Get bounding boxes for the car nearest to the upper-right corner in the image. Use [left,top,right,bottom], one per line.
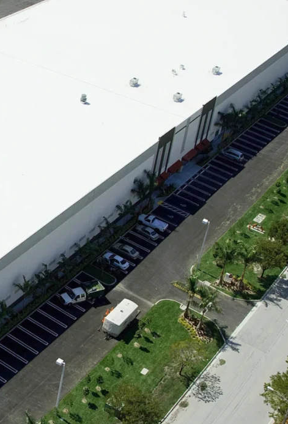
[221,148,246,161]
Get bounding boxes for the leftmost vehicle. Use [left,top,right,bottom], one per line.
[64,276,112,304]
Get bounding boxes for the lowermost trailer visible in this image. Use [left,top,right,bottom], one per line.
[105,299,140,338]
